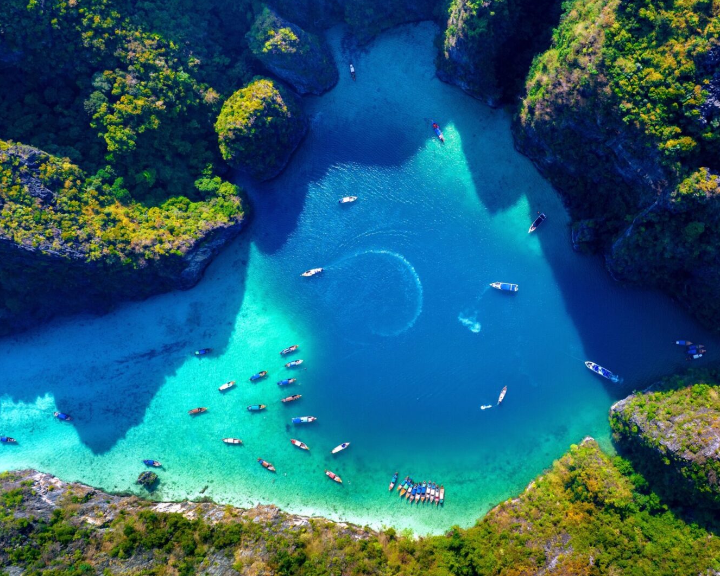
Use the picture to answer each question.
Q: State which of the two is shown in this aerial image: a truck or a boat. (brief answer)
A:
boat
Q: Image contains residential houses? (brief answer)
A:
No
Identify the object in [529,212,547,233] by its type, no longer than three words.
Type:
boat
